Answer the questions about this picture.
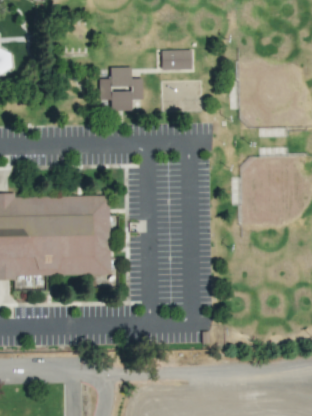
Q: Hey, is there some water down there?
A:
No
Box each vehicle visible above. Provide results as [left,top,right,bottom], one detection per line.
[14,368,24,374]
[32,358,44,362]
